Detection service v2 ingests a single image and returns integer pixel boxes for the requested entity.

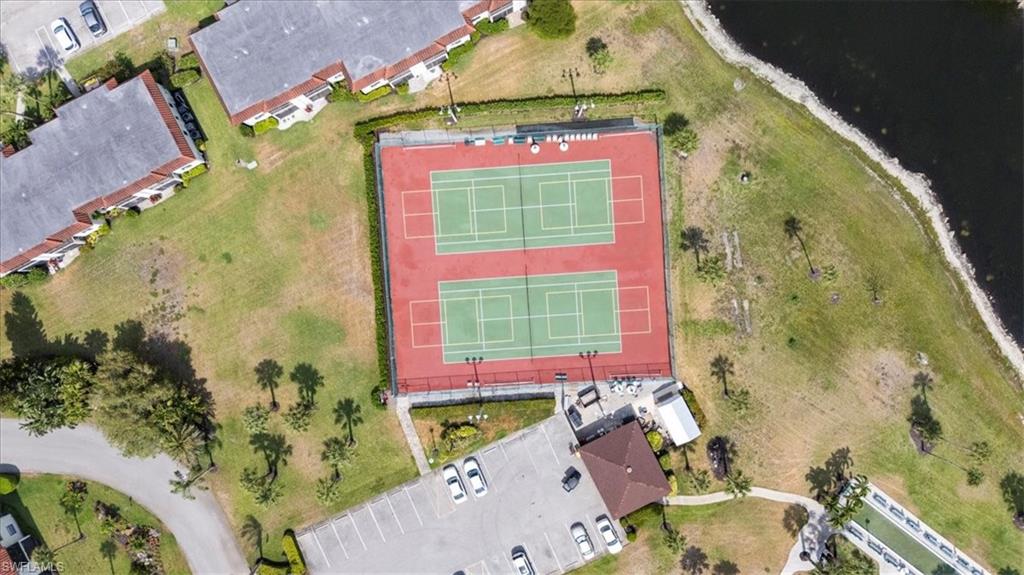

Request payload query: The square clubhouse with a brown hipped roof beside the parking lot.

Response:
[578,418,672,519]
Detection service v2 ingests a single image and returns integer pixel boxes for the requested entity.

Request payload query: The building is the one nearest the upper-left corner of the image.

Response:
[0,69,203,281]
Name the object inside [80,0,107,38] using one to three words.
car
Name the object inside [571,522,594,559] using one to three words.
car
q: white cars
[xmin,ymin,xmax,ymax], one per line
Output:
[596,516,621,553]
[444,466,468,504]
[50,18,82,54]
[464,458,488,496]
[513,552,535,575]
[571,522,594,559]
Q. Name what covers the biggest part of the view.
grass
